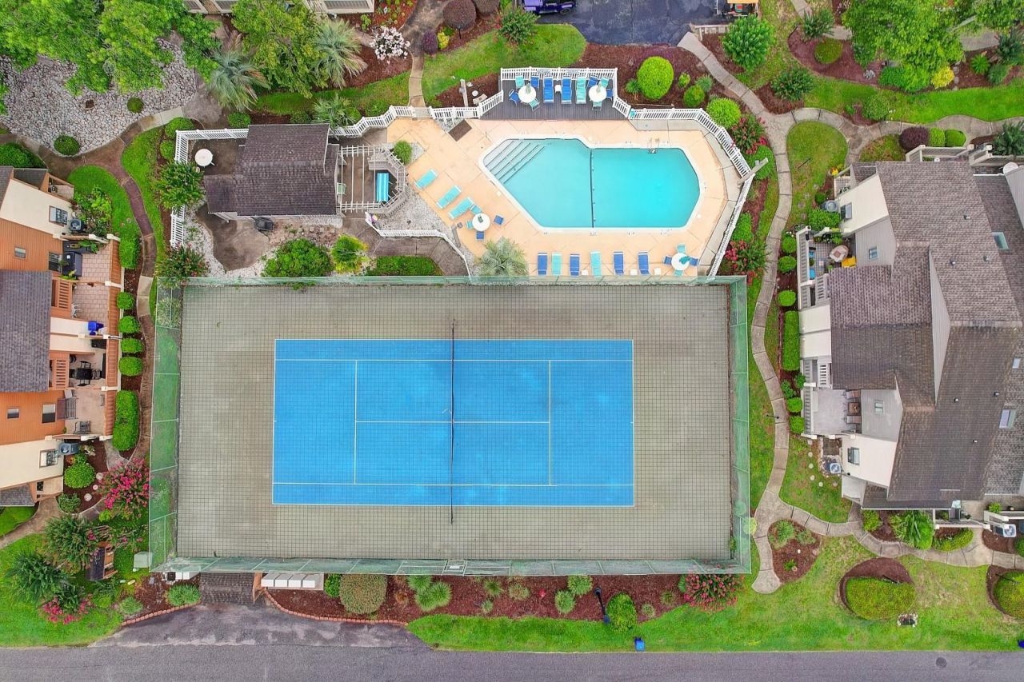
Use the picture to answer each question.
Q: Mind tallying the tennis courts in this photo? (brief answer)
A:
1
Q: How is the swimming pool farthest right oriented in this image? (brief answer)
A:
from side to side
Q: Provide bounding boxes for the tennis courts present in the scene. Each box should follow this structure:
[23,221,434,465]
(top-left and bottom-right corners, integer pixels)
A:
[177,285,731,558]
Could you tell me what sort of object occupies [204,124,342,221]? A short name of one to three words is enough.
building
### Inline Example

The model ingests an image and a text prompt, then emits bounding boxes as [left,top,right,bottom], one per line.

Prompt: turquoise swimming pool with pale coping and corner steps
[479,133,707,234]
